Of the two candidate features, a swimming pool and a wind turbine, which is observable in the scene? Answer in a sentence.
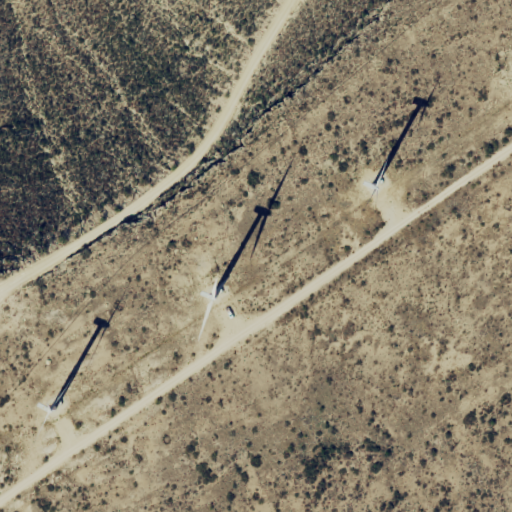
Of the two, only a wind turbine appears.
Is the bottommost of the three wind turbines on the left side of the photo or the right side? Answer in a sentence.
The bottommost of the three wind turbines is on the left side of the image.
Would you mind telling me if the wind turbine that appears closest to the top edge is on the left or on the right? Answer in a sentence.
The wind turbine that appears closest to the top edge appears in the right half of the scene.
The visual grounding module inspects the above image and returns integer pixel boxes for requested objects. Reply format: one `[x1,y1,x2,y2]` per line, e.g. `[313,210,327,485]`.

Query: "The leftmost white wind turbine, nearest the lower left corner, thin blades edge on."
[36,371,64,436]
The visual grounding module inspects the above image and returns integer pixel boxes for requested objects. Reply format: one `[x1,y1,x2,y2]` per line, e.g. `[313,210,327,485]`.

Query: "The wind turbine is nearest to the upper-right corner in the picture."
[362,148,392,218]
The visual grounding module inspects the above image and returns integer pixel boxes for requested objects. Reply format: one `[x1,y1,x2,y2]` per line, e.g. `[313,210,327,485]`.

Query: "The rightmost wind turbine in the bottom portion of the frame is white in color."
[197,276,226,338]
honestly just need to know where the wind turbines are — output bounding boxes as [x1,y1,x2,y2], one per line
[362,148,392,218]
[197,276,226,338]
[36,371,64,436]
